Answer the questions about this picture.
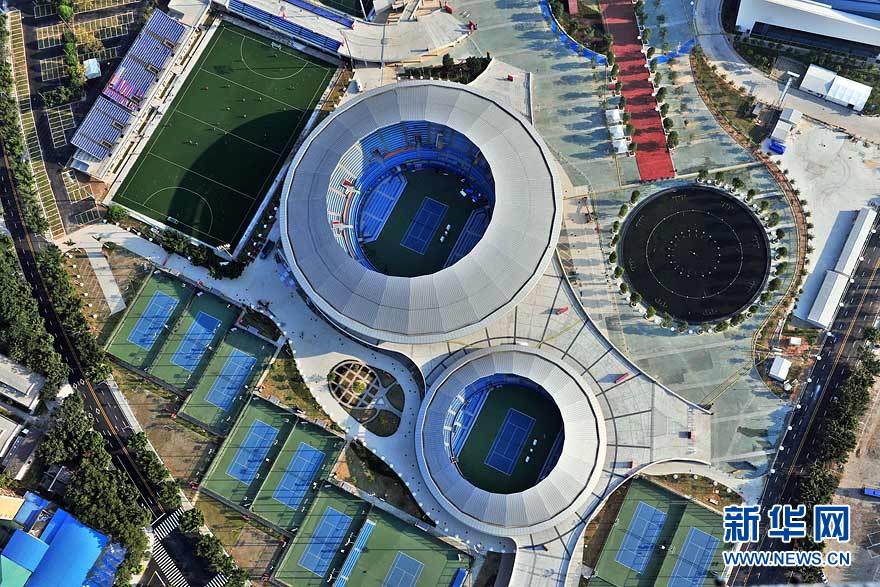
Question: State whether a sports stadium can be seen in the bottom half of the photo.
Yes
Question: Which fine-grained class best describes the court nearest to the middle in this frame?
tennis court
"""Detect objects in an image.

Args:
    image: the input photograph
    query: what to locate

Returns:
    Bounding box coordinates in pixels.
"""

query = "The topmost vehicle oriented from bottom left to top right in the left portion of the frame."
[260,241,272,256]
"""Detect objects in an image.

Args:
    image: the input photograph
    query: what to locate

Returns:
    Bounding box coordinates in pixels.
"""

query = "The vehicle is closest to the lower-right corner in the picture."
[817,569,833,584]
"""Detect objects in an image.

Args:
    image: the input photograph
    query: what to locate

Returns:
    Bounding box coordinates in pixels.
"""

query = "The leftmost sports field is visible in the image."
[105,17,341,257]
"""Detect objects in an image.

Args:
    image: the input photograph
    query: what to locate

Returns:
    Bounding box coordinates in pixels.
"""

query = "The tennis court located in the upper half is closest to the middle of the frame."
[360,165,490,276]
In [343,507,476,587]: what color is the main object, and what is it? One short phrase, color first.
green tennis court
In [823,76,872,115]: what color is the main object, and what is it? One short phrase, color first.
white tent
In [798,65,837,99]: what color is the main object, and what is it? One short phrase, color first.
white tent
